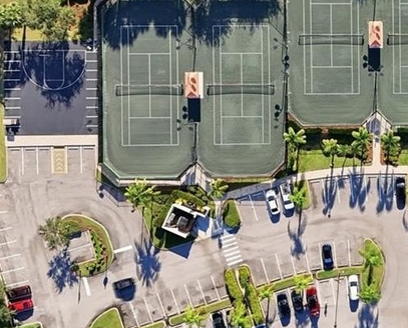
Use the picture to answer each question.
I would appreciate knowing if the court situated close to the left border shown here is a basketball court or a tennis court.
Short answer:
basketball court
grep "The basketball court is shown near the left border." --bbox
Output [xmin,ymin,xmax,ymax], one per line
[4,41,94,135]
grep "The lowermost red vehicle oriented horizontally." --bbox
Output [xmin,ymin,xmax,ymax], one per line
[9,298,34,312]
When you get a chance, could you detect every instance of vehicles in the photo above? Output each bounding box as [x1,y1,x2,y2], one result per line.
[347,275,358,299]
[213,312,226,328]
[9,298,34,312]
[279,181,295,209]
[276,289,289,317]
[266,190,279,215]
[395,177,406,202]
[322,244,333,269]
[112,276,136,289]
[306,286,319,315]
[291,286,304,312]
[7,285,33,298]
